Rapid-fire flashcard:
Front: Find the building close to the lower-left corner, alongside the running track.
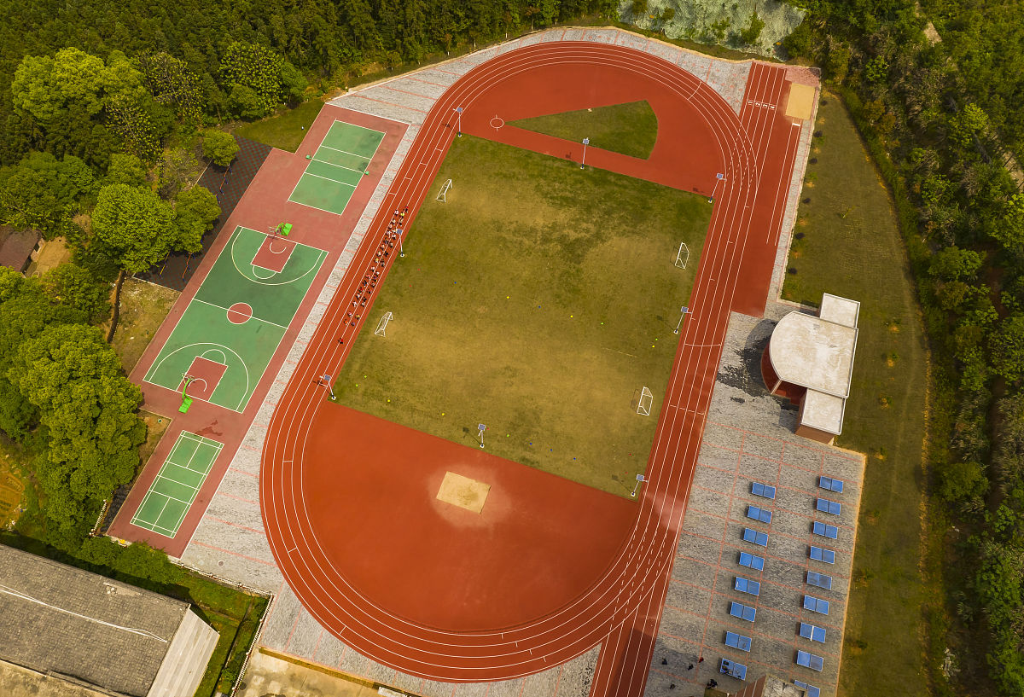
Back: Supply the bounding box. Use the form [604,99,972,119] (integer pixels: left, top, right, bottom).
[0,536,221,697]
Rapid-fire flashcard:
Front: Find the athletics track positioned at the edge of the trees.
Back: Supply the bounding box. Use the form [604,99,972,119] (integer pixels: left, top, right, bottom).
[259,40,805,697]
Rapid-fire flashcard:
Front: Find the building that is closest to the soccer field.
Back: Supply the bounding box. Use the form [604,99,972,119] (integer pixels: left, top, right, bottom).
[760,292,861,445]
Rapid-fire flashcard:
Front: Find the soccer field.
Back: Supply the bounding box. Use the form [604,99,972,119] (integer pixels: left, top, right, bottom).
[333,136,714,500]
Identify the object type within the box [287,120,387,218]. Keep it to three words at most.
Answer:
sports court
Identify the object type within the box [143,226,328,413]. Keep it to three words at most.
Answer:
basketball court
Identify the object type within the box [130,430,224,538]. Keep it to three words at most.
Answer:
sports court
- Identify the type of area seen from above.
sports ground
